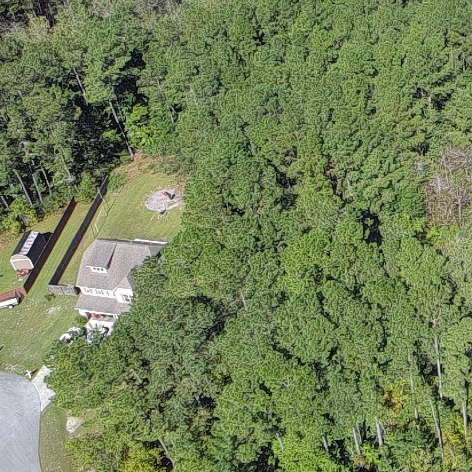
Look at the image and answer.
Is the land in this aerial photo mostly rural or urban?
rural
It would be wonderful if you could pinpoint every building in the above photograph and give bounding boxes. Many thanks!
[0,230,46,272]
[72,244,182,328]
